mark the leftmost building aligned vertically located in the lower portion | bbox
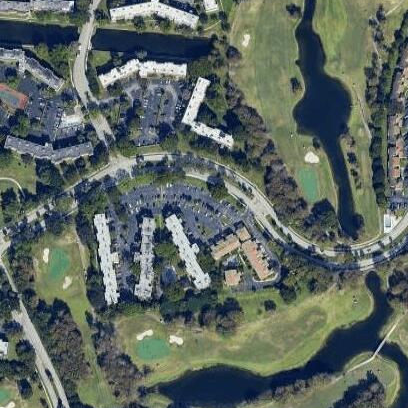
[93,214,119,305]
